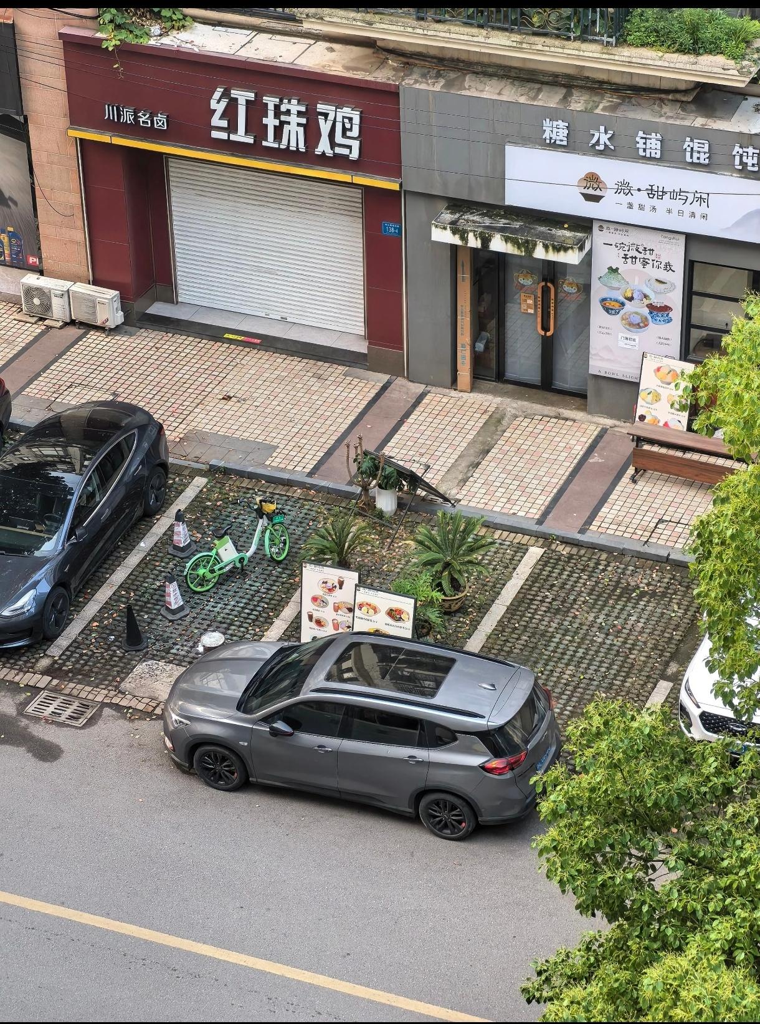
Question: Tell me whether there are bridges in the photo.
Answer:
No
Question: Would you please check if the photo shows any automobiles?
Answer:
Yes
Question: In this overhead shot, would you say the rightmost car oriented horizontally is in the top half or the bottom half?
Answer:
bottom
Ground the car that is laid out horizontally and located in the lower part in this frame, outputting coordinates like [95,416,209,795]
[164,627,561,839]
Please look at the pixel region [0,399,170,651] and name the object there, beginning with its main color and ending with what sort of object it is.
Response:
black car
